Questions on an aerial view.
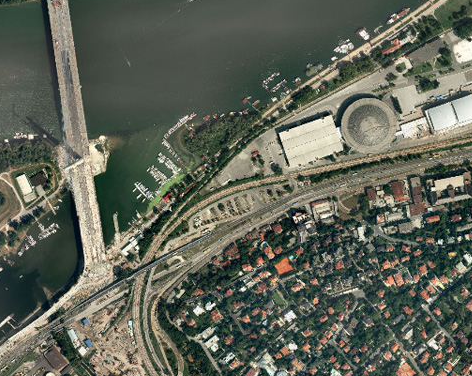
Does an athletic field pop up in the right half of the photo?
No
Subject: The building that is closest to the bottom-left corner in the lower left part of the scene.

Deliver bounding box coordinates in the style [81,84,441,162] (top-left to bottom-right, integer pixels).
[44,345,70,371]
